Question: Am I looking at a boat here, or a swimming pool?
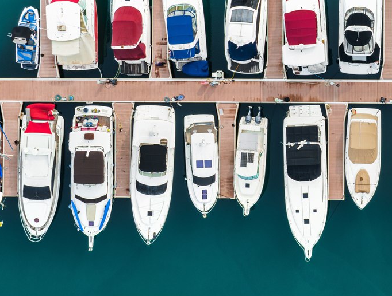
boat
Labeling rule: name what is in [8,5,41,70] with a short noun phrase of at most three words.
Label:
boat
